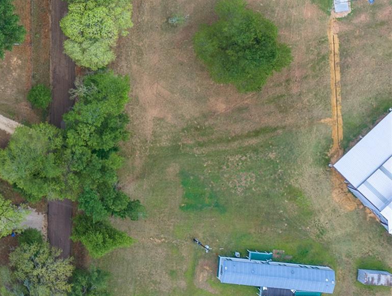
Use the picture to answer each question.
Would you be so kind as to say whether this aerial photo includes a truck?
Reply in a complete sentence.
No, I can't see a single truck in this photo.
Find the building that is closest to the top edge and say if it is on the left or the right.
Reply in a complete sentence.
You can find the building that is closest to the top edge on the right side of the picture.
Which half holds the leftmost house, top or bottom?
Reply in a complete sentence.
The bottom half of the photo is where the leftmost house is.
